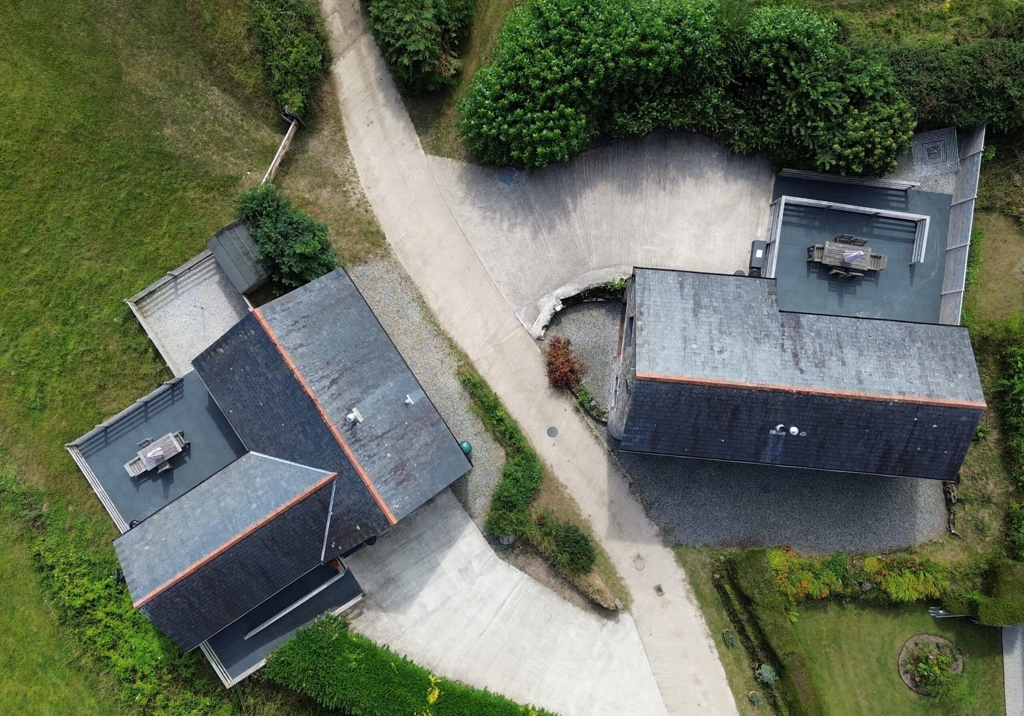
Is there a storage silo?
No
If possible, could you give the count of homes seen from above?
2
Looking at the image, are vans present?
No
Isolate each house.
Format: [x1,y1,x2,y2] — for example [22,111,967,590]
[608,265,988,483]
[113,267,473,653]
